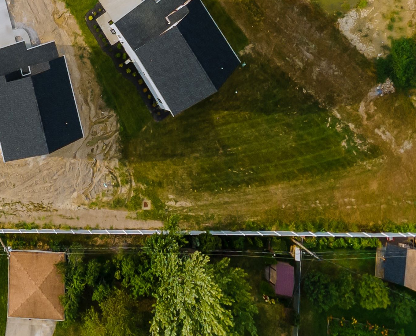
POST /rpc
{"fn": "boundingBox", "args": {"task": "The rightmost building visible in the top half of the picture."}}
[113,0,241,116]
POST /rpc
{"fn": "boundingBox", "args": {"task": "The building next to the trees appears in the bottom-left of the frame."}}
[7,246,66,321]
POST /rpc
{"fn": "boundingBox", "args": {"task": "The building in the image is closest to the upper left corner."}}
[0,41,84,162]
